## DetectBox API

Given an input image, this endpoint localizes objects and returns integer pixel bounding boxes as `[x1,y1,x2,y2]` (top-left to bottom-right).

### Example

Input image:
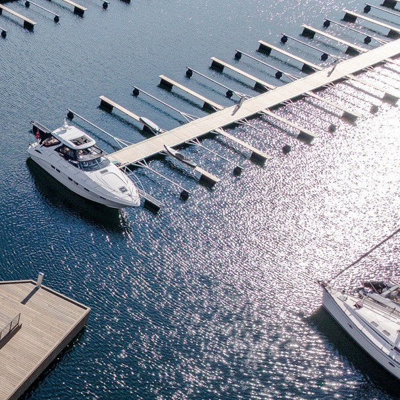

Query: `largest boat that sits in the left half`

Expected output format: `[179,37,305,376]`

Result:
[21,121,145,205]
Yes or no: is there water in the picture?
Yes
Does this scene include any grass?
No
